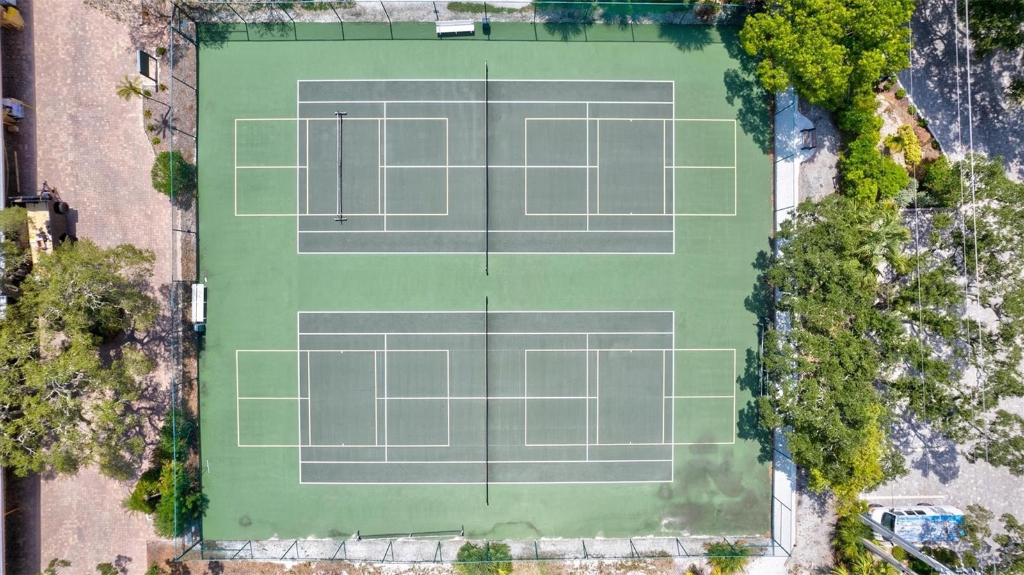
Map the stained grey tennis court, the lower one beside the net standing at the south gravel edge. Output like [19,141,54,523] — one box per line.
[199,283,772,542]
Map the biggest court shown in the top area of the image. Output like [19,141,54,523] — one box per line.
[196,23,772,283]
